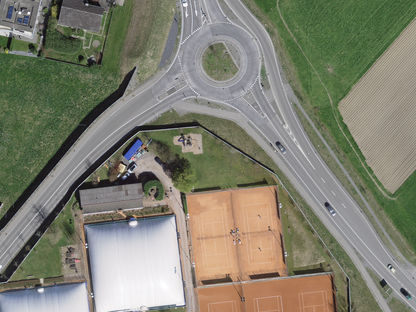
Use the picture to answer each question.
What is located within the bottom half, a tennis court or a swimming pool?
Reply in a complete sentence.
It is a tennis court that can be seen within the bottom half.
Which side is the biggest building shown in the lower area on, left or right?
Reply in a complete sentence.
You can find the biggest building shown in the lower area on the left side of the picture.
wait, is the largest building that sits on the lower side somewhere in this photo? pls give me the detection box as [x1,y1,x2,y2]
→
[80,182,144,215]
